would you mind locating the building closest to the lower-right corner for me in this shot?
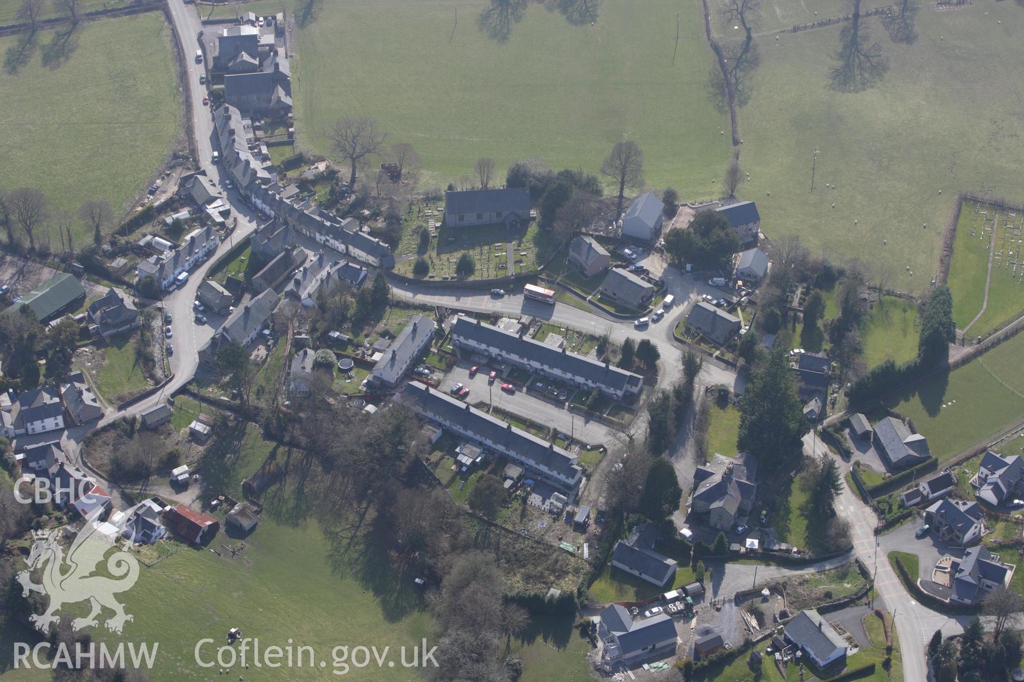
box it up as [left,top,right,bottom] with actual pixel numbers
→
[952,546,1009,606]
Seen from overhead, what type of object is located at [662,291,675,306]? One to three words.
vehicle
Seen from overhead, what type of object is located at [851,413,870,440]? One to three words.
building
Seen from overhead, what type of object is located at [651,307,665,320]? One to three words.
vehicle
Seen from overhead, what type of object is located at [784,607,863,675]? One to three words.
house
